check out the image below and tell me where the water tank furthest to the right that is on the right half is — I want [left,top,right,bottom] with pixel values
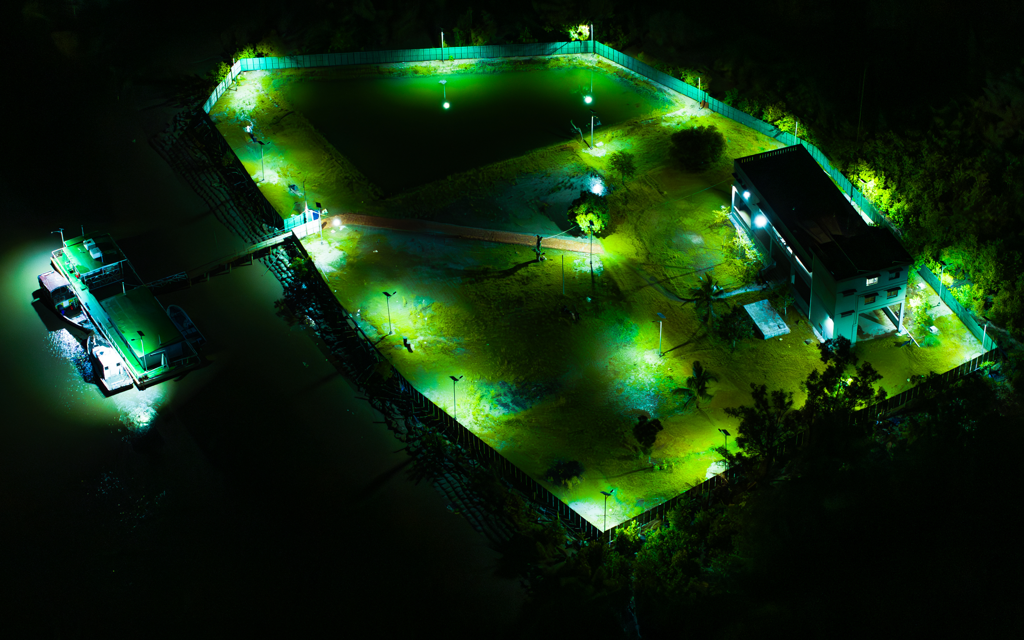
[749,299,790,342]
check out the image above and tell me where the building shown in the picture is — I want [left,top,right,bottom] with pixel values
[725,140,918,352]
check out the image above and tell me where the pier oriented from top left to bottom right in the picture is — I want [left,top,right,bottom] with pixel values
[49,233,203,387]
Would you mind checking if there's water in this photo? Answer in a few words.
Yes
